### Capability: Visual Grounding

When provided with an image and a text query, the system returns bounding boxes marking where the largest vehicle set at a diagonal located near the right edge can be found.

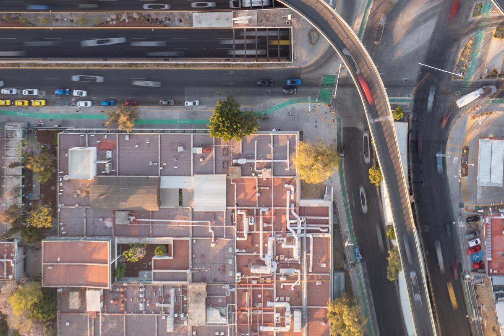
[453,86,487,111]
